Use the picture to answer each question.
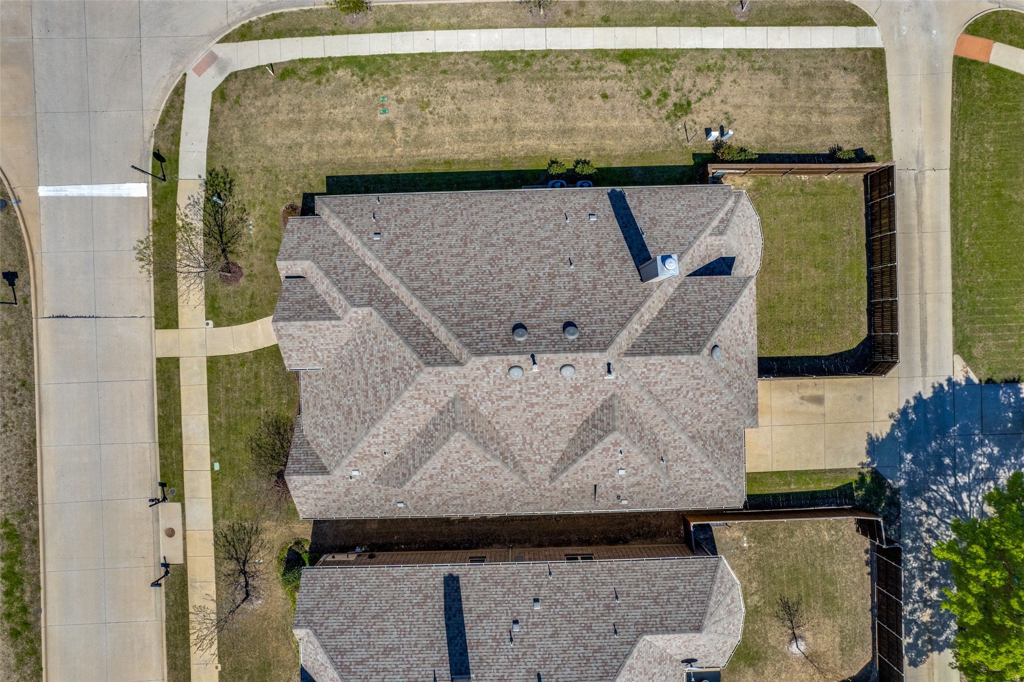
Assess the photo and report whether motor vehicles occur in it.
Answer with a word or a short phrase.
No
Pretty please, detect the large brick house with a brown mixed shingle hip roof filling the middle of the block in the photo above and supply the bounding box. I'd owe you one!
[272,185,765,522]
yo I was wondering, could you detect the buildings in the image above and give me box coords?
[280,543,747,682]
[272,185,765,522]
